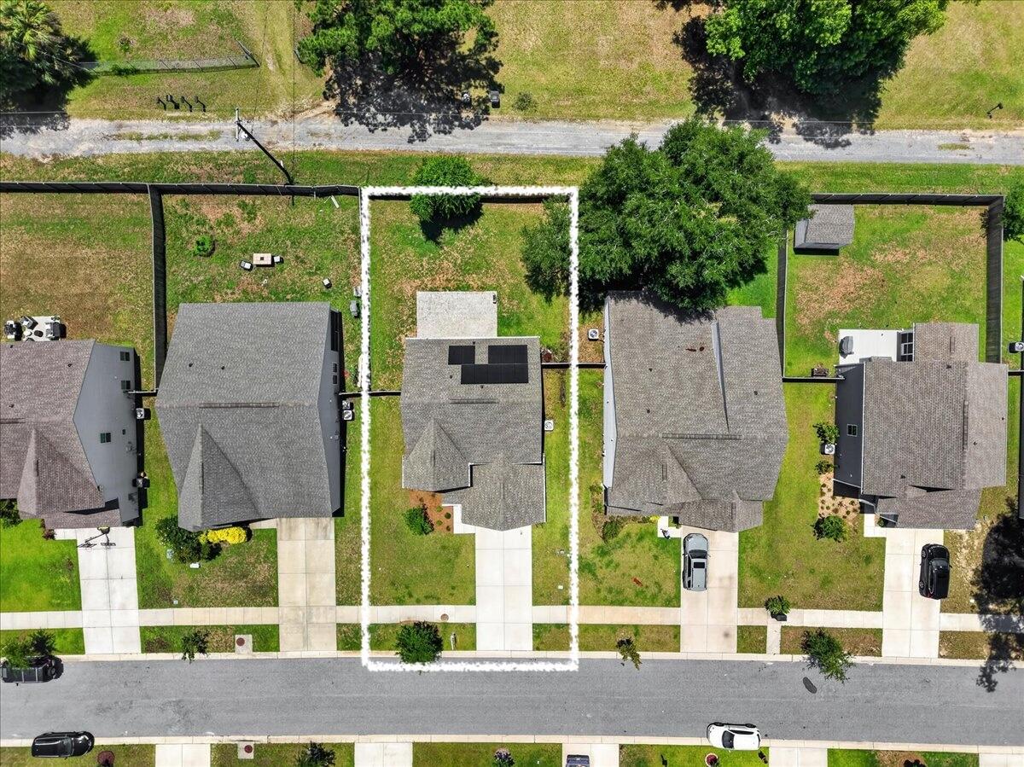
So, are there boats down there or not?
No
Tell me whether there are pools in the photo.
No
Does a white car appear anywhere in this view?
Yes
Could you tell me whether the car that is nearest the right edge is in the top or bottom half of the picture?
bottom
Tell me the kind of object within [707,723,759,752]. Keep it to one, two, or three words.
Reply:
car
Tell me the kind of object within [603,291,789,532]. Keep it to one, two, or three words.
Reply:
house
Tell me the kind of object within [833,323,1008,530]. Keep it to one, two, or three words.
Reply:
house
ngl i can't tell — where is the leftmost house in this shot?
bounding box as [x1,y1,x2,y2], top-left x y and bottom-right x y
[0,343,138,527]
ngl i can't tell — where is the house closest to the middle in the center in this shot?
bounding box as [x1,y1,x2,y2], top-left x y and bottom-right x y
[401,337,546,526]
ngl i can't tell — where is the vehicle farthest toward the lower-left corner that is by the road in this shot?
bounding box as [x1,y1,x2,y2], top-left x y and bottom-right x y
[33,730,92,762]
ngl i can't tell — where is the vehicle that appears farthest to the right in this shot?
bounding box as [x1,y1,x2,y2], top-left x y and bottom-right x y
[919,544,951,597]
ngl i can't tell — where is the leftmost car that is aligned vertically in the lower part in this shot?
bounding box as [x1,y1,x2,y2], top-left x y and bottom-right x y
[682,533,709,589]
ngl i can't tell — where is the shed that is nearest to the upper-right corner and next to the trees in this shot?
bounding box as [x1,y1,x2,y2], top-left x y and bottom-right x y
[797,204,858,250]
